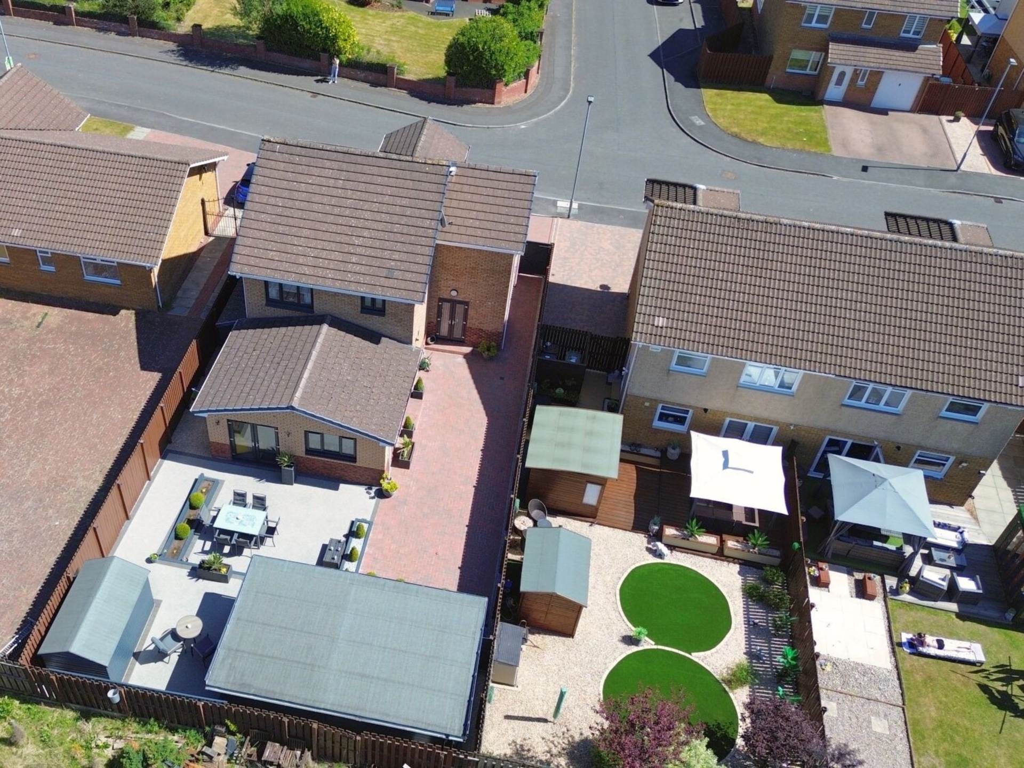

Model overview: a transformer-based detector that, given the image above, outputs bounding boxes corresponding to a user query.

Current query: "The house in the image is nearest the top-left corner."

[0,60,228,308]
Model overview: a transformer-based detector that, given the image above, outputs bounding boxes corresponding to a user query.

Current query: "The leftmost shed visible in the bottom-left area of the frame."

[31,555,156,683]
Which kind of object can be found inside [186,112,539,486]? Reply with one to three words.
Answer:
house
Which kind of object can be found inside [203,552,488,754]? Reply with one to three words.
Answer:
building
